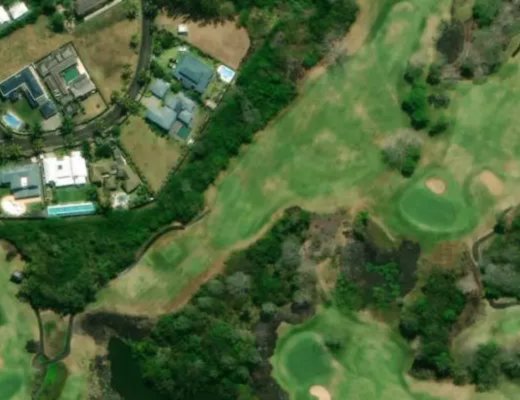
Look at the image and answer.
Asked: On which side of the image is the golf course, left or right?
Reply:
right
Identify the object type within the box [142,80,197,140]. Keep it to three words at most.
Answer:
house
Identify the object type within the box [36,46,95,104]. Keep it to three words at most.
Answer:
house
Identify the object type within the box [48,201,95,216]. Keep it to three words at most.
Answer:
swimming pool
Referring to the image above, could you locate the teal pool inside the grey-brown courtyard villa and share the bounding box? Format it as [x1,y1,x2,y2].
[61,67,80,84]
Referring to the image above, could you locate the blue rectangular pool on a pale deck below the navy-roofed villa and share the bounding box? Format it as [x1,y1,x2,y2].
[2,112,24,130]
